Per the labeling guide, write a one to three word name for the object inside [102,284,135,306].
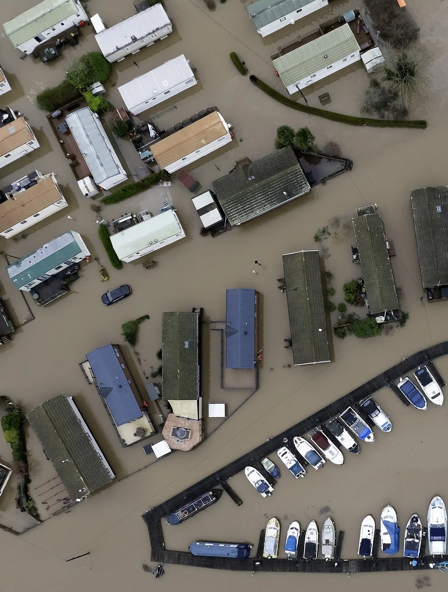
car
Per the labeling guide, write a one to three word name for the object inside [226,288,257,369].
building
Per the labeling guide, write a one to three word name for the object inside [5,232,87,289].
camper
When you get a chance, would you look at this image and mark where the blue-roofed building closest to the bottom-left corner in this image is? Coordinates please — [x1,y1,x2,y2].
[86,344,147,426]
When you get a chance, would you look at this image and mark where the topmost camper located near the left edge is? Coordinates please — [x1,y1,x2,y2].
[3,0,84,54]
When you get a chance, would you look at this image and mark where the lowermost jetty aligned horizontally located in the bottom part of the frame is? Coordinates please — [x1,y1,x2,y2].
[150,548,448,572]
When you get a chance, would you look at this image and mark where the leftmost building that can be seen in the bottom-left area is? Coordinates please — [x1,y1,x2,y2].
[26,393,117,504]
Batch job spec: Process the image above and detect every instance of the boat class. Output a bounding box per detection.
[428,496,447,558]
[320,518,337,561]
[265,517,280,560]
[414,364,443,405]
[160,205,173,211]
[398,377,426,410]
[308,427,342,464]
[360,398,390,431]
[358,514,375,559]
[189,538,252,558]
[167,487,225,524]
[404,514,422,557]
[294,437,326,467]
[245,466,273,496]
[279,447,305,477]
[304,520,319,558]
[284,521,300,556]
[155,560,166,579]
[328,418,360,453]
[380,505,400,558]
[341,407,374,443]
[264,458,280,478]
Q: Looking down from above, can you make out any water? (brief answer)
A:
Yes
